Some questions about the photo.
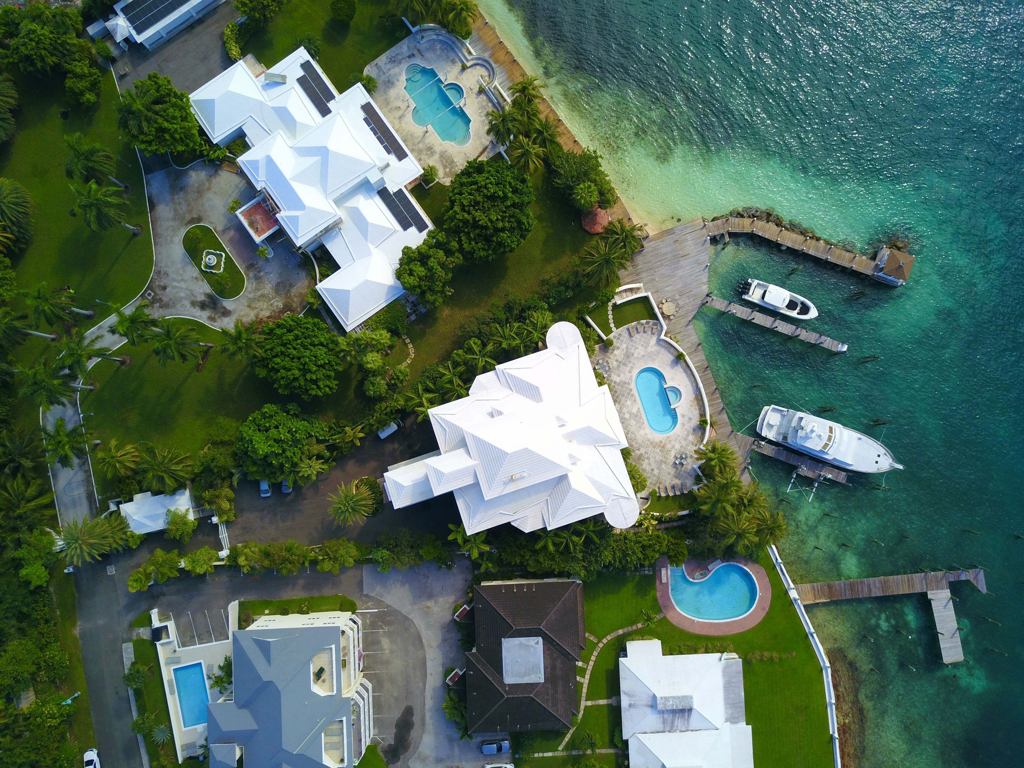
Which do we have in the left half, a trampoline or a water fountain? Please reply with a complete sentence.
You can see a water fountain in the left half.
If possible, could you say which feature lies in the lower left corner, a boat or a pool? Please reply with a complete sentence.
The feature located in the lower left corner is a pool.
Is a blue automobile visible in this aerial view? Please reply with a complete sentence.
Yes, the image includes a blue automobile.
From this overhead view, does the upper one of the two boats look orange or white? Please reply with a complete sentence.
In this view, the upper one of the two boats is white.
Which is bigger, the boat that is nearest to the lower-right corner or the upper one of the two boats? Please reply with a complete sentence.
Of the two, the boat that is nearest to the lower-right corner is larger and the upper one of the two boats is the smaller one.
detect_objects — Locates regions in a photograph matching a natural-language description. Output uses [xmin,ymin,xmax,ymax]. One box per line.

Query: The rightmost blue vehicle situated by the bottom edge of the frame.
[480,738,511,756]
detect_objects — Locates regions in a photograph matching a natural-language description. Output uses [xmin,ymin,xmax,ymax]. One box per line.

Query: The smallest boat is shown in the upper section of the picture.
[738,279,818,319]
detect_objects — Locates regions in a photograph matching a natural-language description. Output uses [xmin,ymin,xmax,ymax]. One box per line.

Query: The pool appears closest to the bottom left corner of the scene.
[171,659,211,731]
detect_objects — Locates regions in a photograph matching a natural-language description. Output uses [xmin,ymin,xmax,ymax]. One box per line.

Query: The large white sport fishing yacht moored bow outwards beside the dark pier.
[756,402,904,473]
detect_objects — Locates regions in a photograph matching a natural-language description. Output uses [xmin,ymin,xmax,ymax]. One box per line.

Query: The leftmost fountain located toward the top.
[201,249,226,273]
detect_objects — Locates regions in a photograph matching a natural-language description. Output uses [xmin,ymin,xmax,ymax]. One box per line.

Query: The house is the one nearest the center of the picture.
[384,320,641,536]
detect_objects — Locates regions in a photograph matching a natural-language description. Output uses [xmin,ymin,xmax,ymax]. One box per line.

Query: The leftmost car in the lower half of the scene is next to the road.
[81,745,102,768]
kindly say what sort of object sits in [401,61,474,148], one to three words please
swimming pool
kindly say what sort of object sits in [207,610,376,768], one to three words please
building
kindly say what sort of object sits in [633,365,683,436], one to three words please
swimming pool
